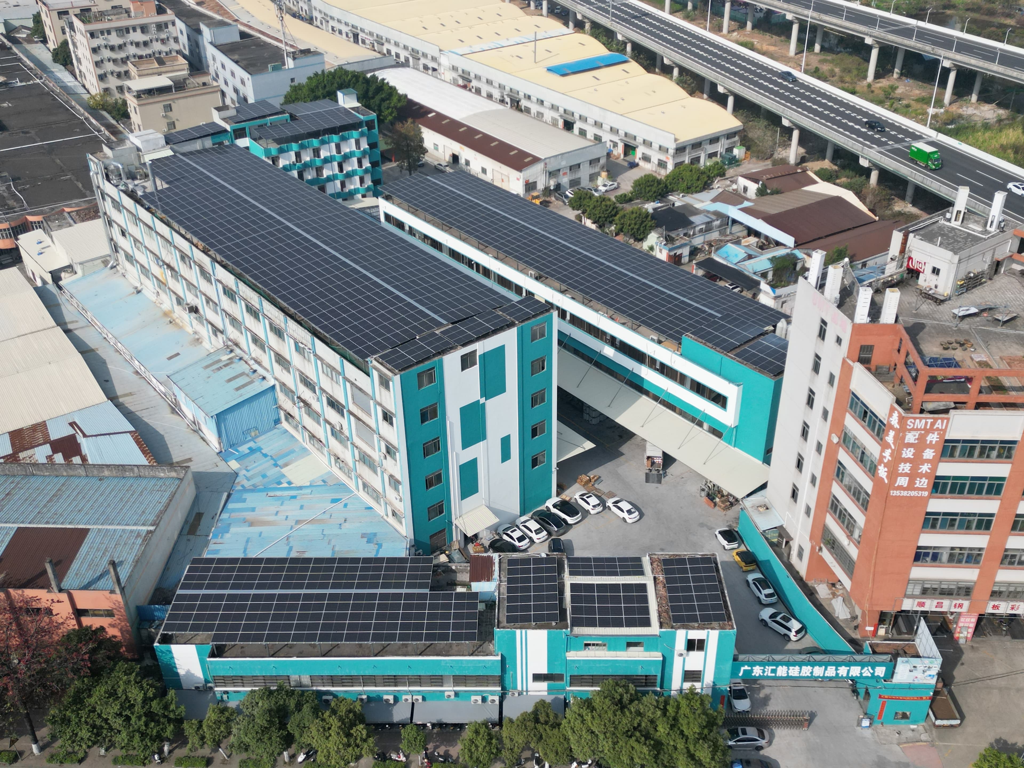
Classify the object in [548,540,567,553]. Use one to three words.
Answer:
vehicle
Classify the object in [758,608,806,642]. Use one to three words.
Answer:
car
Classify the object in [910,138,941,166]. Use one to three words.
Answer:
truck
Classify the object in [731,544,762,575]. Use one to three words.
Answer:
car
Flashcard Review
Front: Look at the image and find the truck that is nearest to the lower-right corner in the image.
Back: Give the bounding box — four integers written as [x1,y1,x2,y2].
[934,673,963,728]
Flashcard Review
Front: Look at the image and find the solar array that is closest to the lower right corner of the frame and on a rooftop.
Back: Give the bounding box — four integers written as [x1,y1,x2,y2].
[661,555,728,628]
